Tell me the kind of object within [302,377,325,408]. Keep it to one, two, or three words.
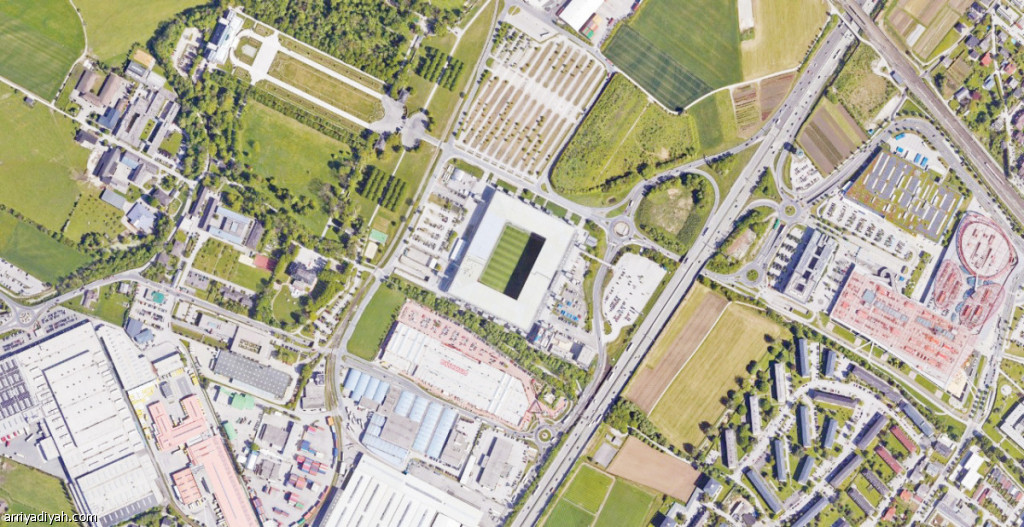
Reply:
building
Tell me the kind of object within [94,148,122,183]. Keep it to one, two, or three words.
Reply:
barn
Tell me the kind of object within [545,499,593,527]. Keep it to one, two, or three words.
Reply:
sports field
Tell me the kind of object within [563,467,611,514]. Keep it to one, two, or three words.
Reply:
sports field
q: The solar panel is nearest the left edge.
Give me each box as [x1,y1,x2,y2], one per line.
[0,359,31,415]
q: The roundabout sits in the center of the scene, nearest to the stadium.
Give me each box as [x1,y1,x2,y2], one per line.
[607,215,635,243]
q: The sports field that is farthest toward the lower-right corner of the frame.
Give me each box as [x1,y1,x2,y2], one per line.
[597,480,656,527]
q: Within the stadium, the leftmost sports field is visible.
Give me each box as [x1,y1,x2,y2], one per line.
[479,223,545,300]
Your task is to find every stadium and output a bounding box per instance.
[448,189,579,335]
